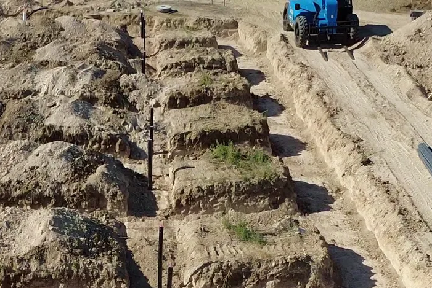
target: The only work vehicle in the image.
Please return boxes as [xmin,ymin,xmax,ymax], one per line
[286,0,362,56]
